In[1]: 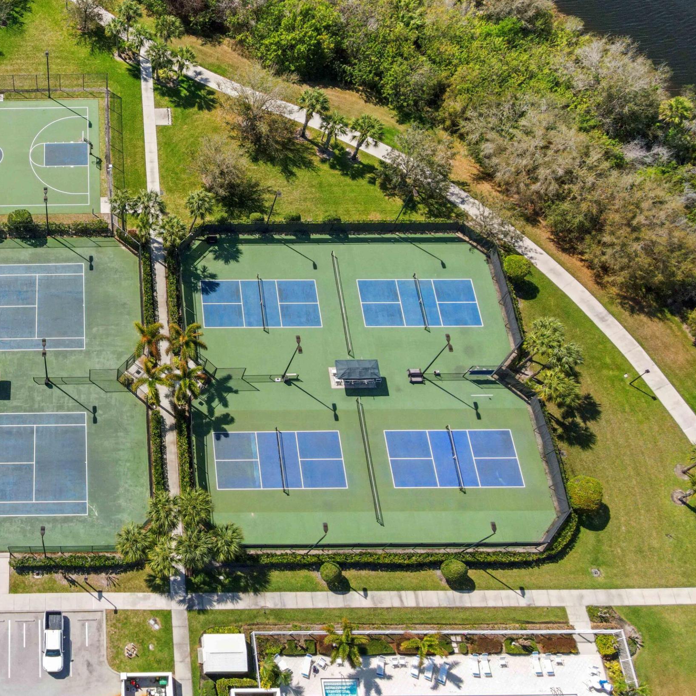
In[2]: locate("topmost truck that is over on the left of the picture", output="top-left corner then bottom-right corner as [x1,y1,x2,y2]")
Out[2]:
[39,608,66,673]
